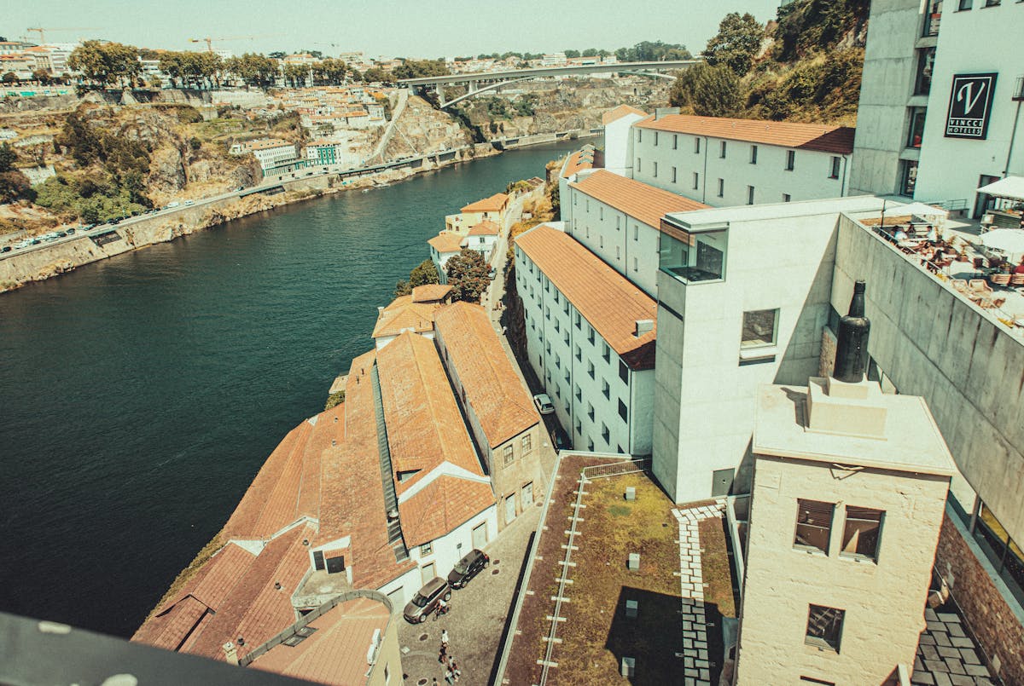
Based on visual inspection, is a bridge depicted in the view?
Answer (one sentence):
Yes, the image includes a bridge.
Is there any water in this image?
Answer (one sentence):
Yes, there's water in this view.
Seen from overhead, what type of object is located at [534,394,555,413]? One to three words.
car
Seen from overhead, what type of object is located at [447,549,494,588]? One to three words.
car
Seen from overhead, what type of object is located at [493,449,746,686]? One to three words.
building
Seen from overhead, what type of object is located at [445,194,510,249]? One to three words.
house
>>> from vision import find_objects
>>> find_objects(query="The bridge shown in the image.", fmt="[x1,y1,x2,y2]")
[383,60,707,111]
